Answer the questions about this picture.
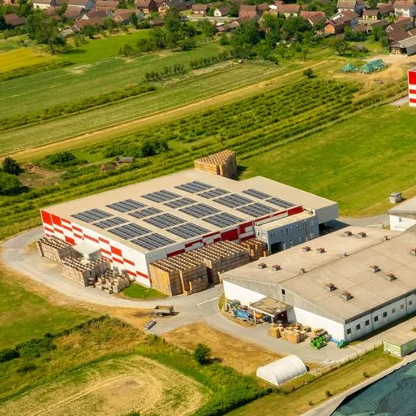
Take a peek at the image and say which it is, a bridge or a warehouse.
warehouse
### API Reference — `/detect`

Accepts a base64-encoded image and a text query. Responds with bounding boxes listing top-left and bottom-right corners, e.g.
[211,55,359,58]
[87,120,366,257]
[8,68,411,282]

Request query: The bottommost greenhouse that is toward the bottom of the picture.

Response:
[254,351,309,385]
